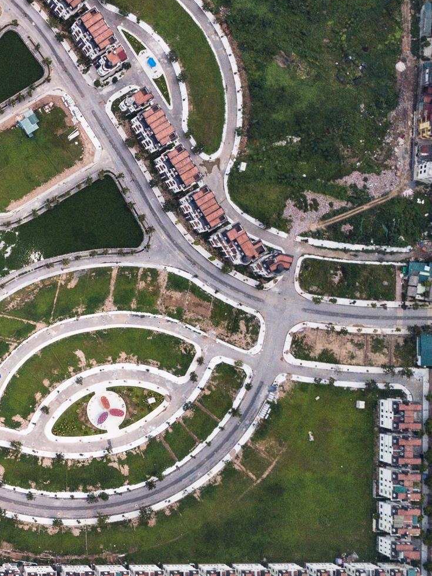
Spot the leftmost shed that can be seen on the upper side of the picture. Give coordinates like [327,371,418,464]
[18,109,39,137]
